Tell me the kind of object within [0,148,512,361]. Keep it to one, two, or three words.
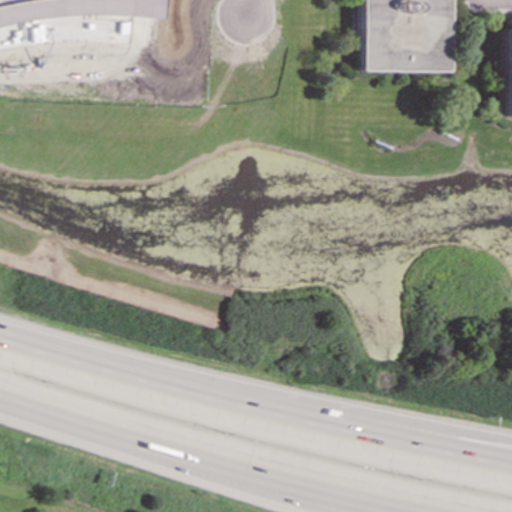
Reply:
pond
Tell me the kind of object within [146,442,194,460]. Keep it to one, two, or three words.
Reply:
vehicle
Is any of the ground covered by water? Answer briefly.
Yes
